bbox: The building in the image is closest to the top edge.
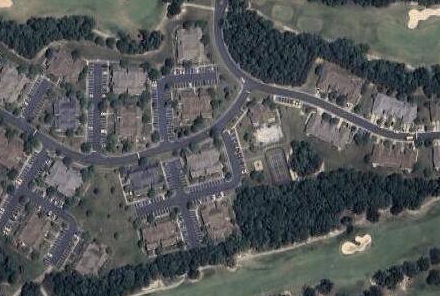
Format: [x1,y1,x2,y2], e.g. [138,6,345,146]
[175,26,205,64]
